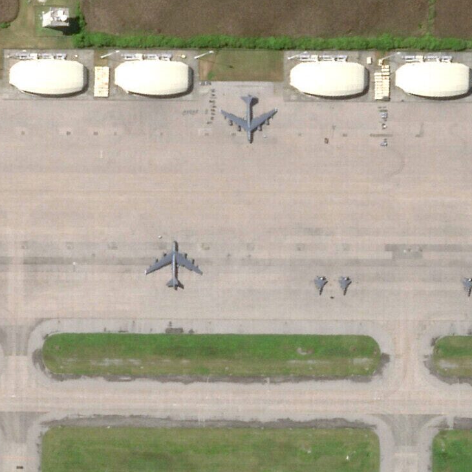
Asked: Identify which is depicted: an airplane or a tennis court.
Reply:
airplane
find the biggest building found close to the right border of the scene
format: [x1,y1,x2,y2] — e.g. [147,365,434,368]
[396,57,471,97]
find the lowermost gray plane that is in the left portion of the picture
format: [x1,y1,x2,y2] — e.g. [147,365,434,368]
[146,241,202,289]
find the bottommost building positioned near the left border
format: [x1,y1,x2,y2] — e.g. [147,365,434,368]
[9,55,85,95]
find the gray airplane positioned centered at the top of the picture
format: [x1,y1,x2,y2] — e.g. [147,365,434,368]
[221,93,277,141]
